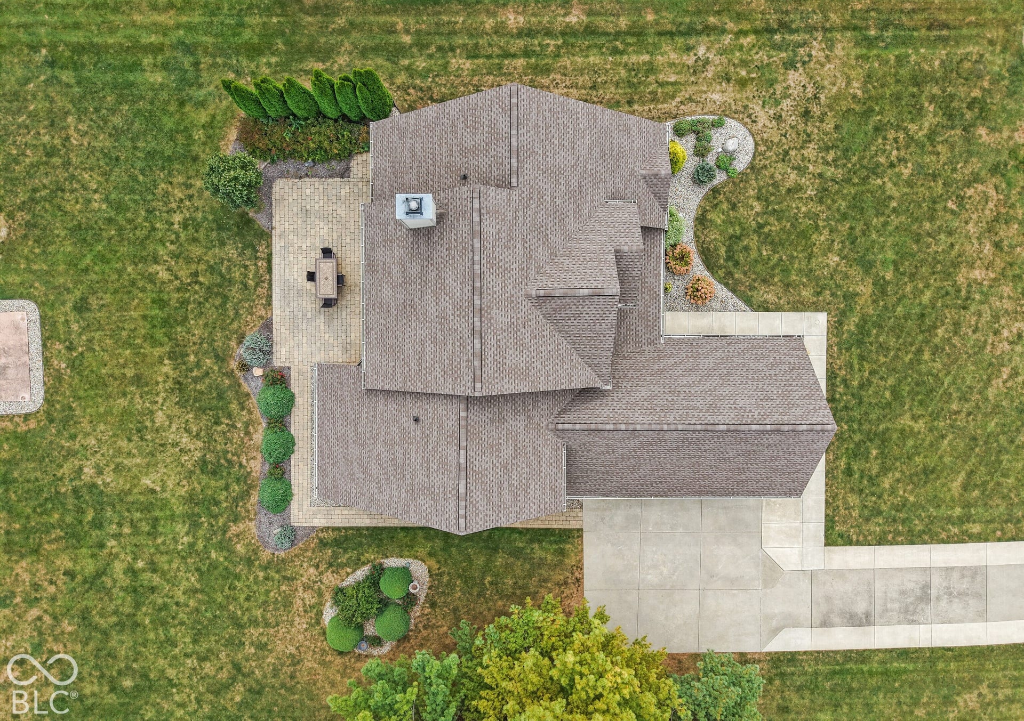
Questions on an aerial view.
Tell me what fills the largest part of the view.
grass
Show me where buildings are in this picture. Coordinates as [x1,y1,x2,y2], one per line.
[313,81,836,535]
